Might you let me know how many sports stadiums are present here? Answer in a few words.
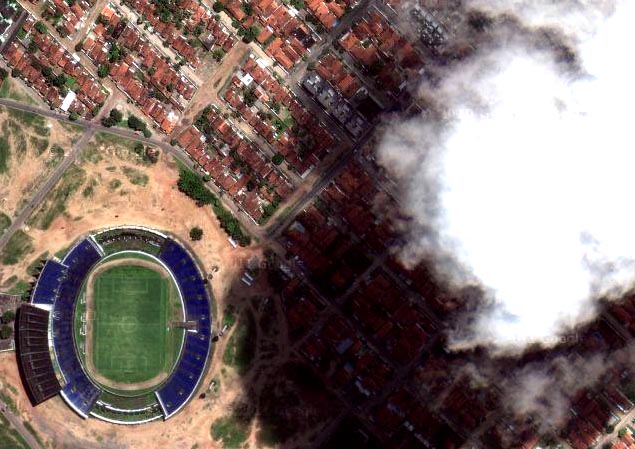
1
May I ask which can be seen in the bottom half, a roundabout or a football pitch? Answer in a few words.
football pitch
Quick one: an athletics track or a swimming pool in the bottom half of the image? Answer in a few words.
athletics track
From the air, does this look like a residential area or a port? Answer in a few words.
residential area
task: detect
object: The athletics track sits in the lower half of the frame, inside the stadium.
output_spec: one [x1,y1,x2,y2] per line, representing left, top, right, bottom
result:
[87,259,172,389]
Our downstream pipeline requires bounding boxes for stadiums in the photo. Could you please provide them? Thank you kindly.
[18,226,212,424]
